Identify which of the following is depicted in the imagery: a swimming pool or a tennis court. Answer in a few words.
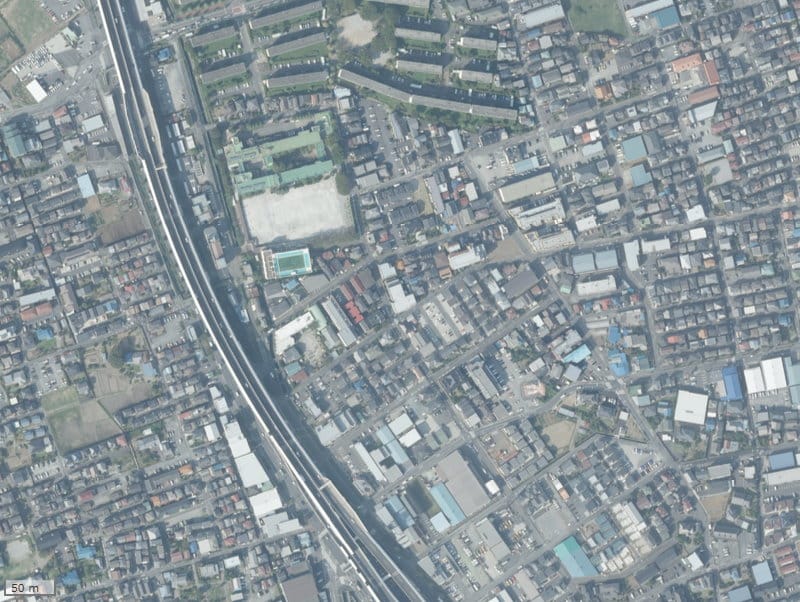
swimming pool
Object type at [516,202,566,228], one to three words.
building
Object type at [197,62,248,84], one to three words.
building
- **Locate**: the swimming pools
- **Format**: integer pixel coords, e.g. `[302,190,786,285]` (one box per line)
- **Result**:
[273,249,312,278]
